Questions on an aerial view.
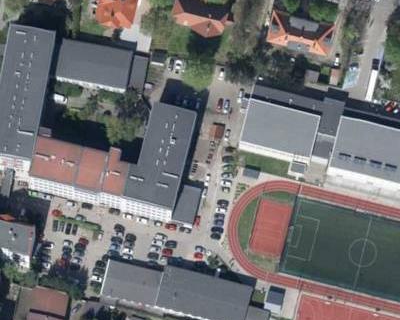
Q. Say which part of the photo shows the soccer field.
bottom right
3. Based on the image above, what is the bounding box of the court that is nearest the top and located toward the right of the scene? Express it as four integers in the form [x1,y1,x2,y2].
[248,198,294,258]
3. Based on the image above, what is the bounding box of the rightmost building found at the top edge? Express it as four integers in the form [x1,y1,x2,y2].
[268,16,335,57]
